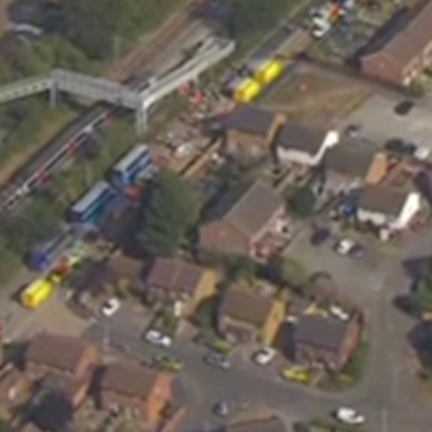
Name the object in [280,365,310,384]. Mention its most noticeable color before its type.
yellow car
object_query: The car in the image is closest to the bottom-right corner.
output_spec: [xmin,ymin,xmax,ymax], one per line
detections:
[333,407,365,424]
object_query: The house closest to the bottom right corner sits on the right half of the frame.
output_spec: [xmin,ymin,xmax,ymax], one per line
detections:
[293,309,364,374]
